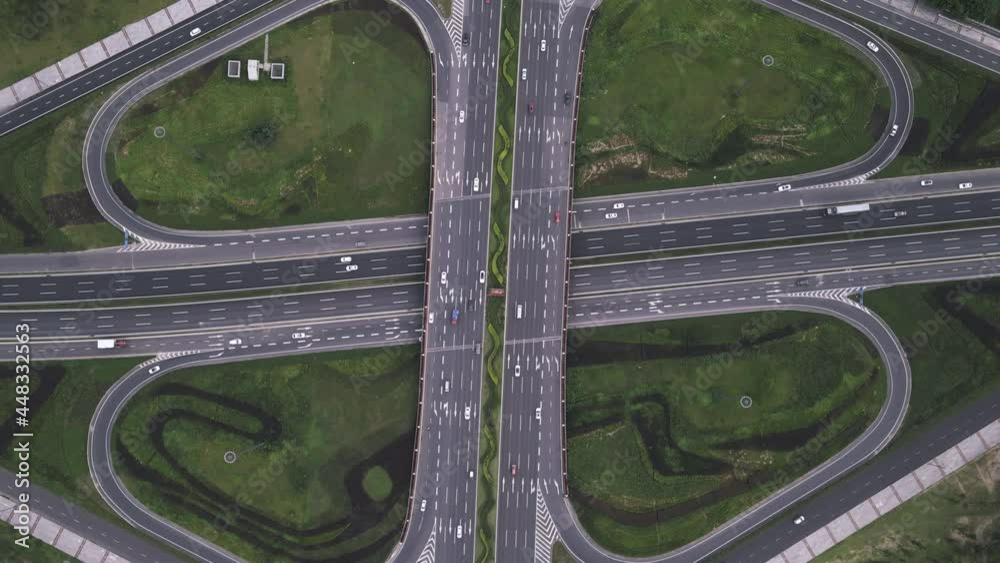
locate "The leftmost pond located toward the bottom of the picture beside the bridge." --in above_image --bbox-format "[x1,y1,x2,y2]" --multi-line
[341,429,416,532]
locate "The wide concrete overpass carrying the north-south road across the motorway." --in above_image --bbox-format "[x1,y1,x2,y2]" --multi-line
[399,8,595,563]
